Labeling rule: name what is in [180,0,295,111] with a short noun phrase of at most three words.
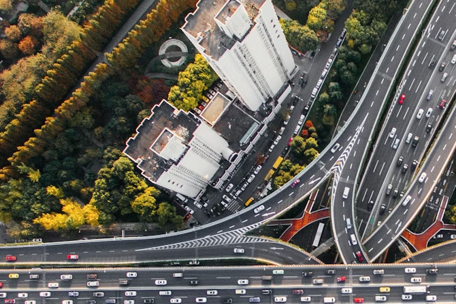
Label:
building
